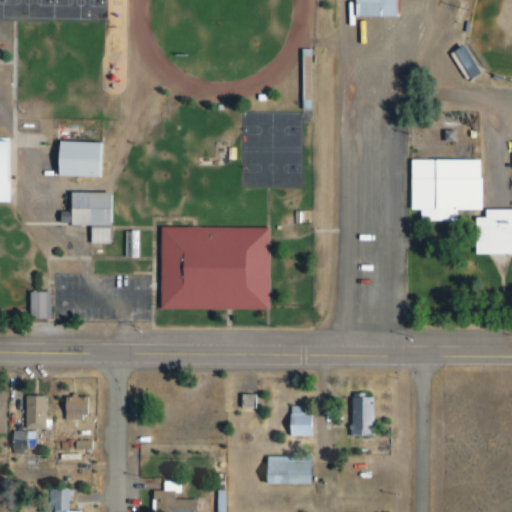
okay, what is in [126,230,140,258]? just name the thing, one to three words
greenhouse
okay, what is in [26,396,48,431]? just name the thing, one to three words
house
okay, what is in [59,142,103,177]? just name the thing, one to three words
shed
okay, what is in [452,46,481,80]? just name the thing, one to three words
building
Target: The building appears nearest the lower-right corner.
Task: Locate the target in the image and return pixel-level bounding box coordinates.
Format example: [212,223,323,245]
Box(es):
[352,394,374,438]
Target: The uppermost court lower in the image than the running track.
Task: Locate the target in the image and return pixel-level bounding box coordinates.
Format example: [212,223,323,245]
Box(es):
[244,111,303,150]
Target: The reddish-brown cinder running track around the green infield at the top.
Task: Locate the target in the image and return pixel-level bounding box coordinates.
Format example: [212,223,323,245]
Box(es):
[132,0,310,98]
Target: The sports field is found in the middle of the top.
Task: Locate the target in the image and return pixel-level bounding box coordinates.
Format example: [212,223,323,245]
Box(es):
[148,0,294,82]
